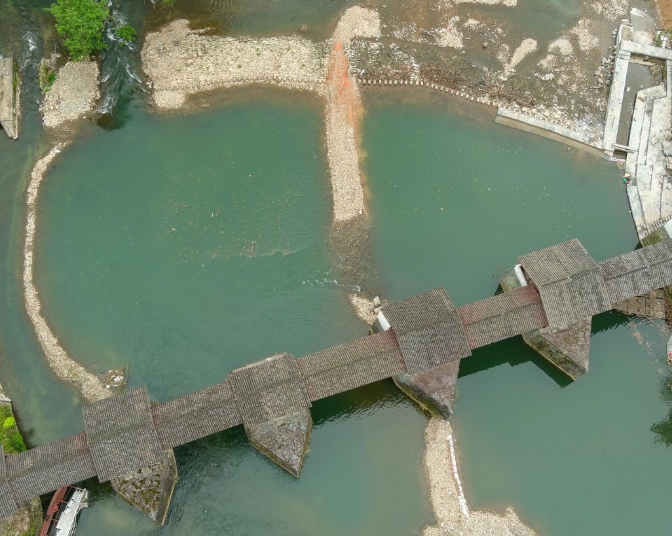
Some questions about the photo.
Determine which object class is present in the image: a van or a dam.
dam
